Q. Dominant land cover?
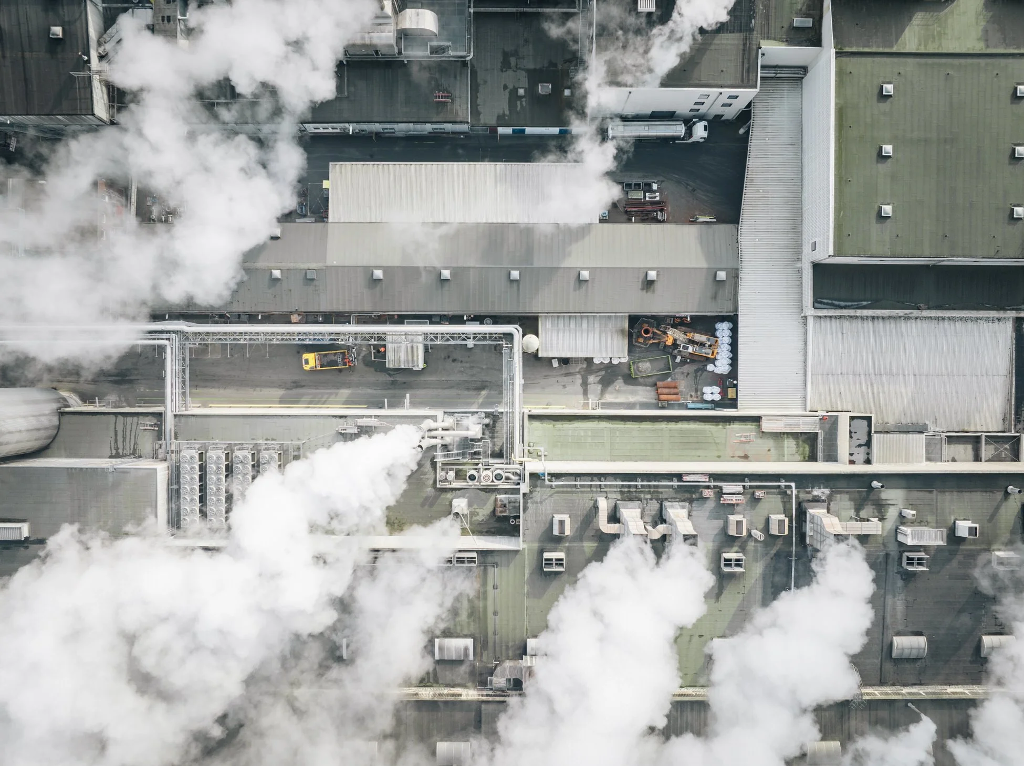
buildings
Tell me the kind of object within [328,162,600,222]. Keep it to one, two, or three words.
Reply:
shed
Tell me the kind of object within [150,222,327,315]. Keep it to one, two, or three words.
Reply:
building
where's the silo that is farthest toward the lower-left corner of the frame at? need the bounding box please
[0,386,78,461]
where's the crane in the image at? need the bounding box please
[644,329,724,364]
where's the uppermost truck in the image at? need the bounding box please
[604,120,710,143]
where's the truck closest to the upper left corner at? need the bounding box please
[300,343,360,373]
